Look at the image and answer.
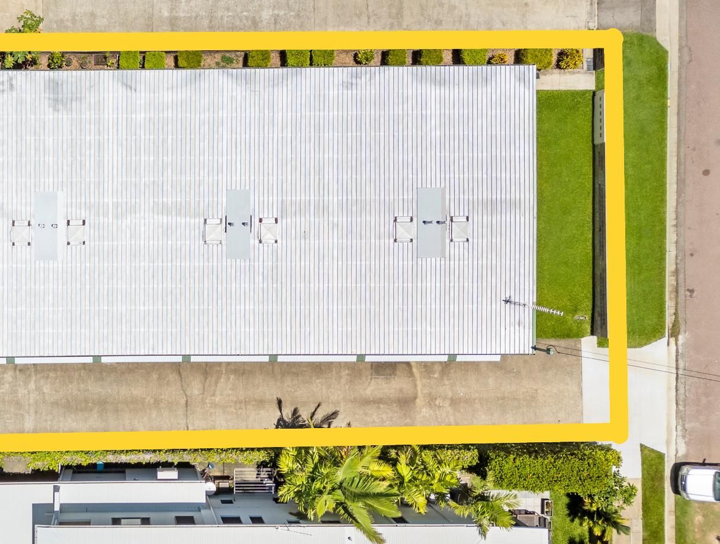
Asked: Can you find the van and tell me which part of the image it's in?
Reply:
bottom right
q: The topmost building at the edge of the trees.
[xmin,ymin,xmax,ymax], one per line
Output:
[0,61,536,364]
